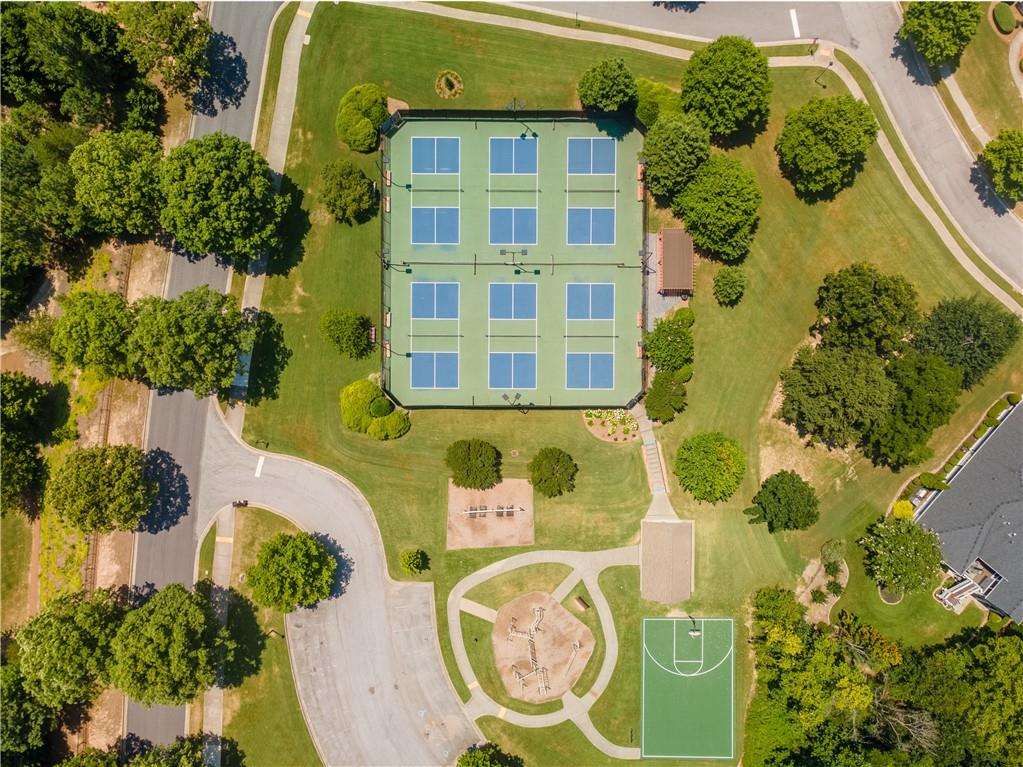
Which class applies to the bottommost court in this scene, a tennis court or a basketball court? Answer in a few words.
basketball court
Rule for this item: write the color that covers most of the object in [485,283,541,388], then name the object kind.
blue sports court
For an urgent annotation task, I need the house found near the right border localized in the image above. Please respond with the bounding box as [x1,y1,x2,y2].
[911,387,1023,622]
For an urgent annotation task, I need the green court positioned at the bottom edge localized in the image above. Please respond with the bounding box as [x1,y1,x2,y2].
[640,616,734,760]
